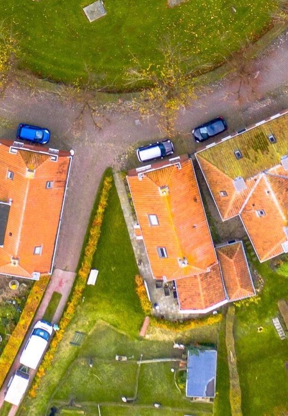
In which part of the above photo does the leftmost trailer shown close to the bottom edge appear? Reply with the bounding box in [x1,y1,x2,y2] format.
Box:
[4,368,31,409]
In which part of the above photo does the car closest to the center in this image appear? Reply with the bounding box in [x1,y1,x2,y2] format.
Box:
[137,140,175,160]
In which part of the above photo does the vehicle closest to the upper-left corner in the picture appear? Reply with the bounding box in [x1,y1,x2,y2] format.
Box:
[17,122,51,144]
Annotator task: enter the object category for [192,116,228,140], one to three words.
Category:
car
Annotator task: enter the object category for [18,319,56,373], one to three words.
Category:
van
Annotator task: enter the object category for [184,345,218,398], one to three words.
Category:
shed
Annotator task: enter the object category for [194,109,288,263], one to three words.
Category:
house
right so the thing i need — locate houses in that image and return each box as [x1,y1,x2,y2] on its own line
[194,109,288,263]
[0,139,73,279]
[126,157,256,314]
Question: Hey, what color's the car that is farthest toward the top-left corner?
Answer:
blue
